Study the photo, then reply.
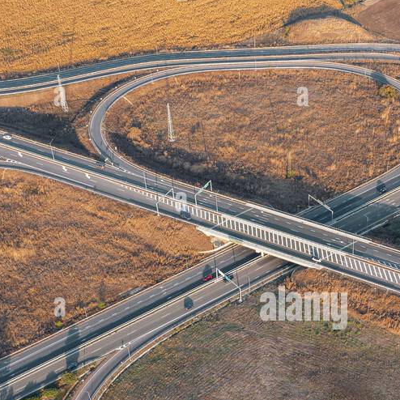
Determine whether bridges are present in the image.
Yes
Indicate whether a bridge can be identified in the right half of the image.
Yes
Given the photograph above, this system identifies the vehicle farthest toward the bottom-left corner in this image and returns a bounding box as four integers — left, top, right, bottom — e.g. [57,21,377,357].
[61,358,81,372]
